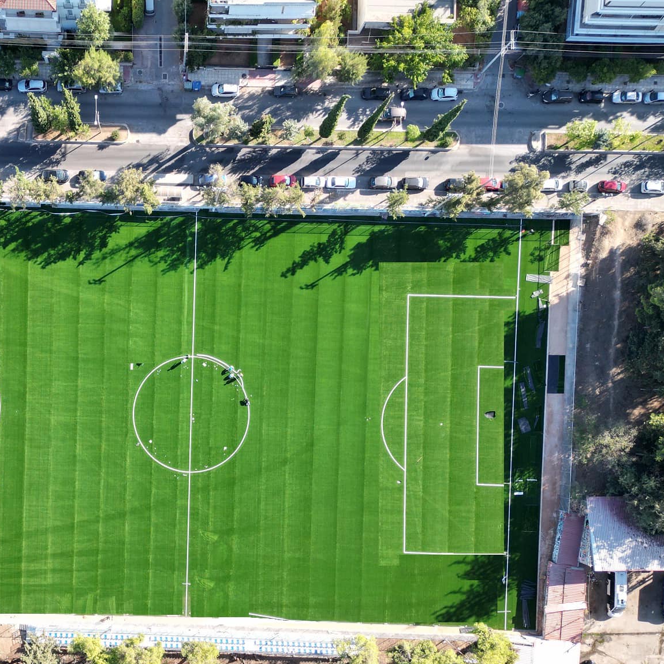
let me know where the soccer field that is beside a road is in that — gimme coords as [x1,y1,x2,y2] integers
[0,205,569,632]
